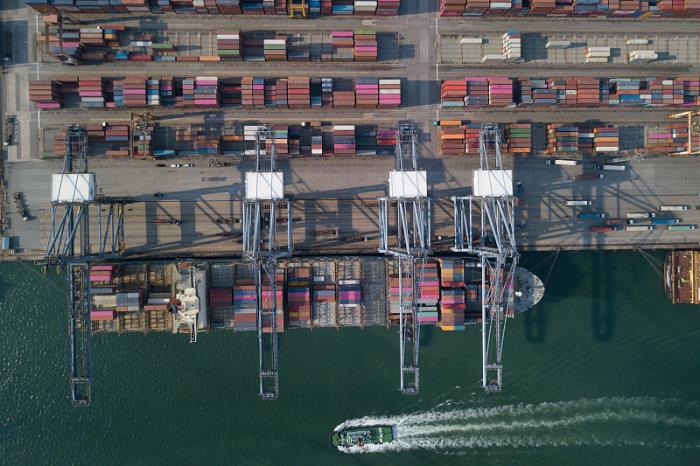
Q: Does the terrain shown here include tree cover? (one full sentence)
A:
No, tree cover can't be seen anywhere here.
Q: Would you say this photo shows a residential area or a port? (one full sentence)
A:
The picture captures a port.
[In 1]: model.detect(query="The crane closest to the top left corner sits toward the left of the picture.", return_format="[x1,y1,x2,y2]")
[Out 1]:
[44,8,81,68]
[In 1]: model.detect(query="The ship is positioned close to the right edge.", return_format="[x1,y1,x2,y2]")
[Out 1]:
[658,252,700,303]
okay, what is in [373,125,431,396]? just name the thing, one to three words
container crane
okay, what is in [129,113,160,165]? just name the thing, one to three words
crane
